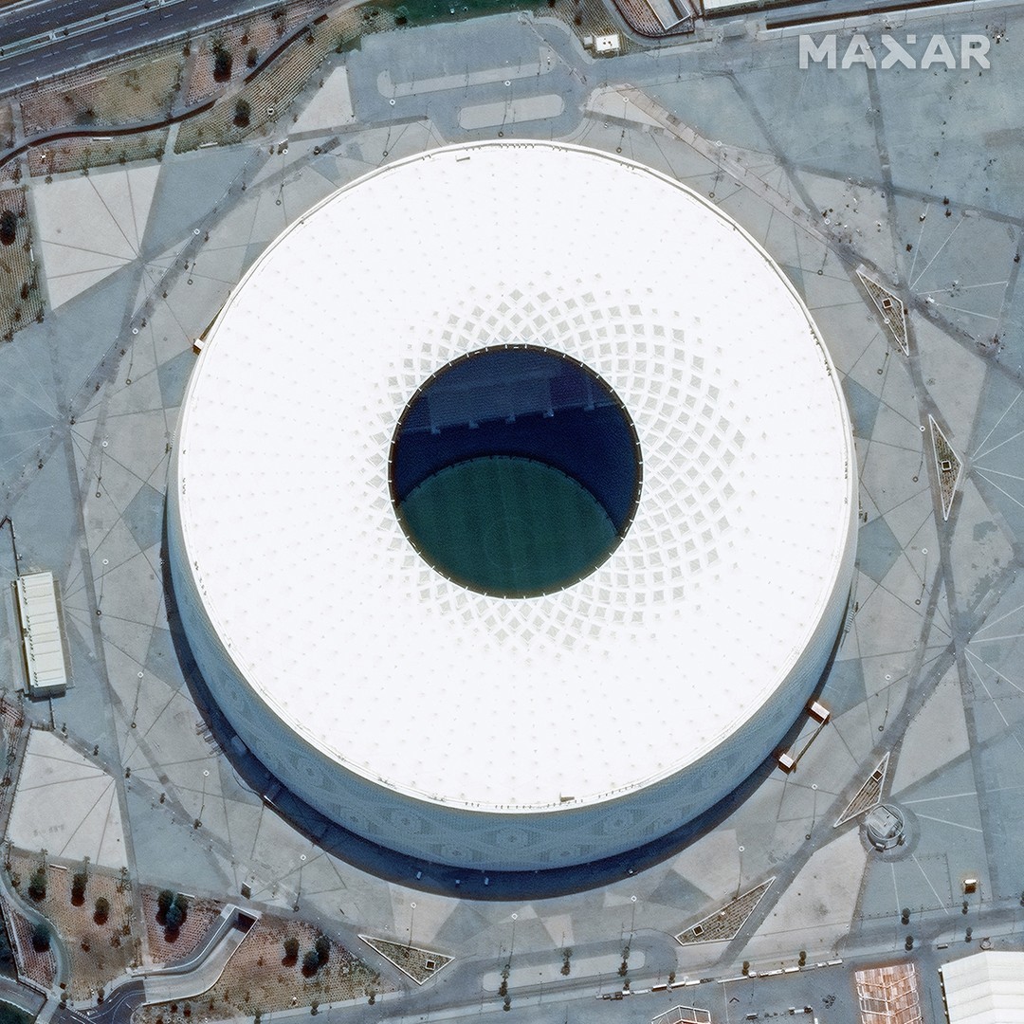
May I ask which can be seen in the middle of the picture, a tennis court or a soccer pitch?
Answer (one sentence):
The feature located in the middle of the picture is a soccer pitch.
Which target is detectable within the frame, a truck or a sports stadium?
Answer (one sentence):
Looking from above, you can make out a sports stadium.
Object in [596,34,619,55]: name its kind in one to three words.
building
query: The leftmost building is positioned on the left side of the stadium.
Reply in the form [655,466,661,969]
[17,571,66,696]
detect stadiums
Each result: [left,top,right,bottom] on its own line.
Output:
[167,139,859,870]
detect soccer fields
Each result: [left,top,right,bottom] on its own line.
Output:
[394,429,637,594]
